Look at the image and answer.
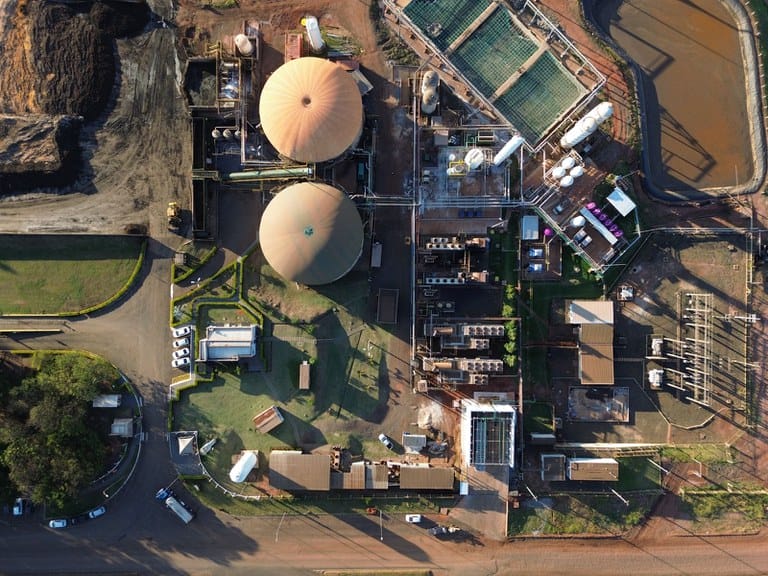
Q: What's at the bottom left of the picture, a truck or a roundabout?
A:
truck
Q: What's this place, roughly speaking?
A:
industrial area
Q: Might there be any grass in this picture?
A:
Yes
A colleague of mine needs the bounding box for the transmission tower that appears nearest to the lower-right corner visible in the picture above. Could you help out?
[730,358,761,373]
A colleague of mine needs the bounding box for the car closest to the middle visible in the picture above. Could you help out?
[378,430,394,448]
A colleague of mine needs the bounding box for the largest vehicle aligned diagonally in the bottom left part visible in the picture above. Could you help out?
[152,483,195,524]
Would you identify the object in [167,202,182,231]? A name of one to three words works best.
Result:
work vehicle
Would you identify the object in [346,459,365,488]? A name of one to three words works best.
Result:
shed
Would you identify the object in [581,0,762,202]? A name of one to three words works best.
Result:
pond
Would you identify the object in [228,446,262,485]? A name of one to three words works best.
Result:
water tank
